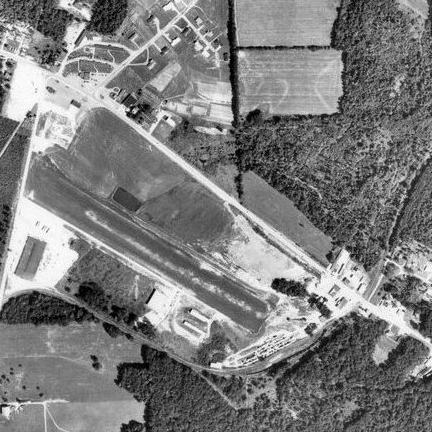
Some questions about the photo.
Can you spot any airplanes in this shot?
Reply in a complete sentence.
No, I find no airplane anywhere in the image.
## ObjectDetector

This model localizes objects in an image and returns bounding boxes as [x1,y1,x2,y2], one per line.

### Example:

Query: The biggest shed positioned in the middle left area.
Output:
[16,237,46,280]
